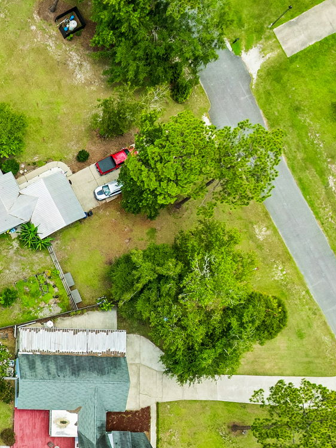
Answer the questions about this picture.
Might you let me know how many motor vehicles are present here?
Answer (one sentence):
In total, 2 motor vehicles can be seen.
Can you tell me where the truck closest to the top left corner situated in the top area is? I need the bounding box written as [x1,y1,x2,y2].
[94,145,129,174]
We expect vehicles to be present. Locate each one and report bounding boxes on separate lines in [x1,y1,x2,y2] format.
[96,174,130,201]
[94,145,129,174]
